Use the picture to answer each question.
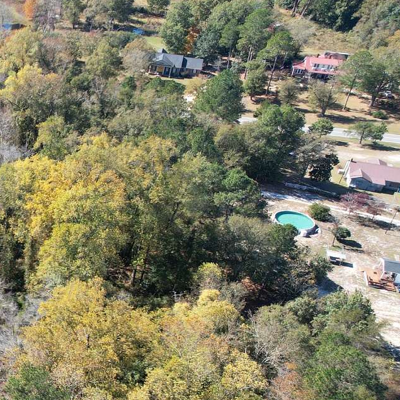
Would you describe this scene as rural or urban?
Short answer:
rural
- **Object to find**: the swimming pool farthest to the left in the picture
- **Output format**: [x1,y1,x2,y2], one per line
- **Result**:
[272,213,315,238]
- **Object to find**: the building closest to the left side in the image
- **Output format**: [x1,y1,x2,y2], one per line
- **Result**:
[147,51,204,78]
